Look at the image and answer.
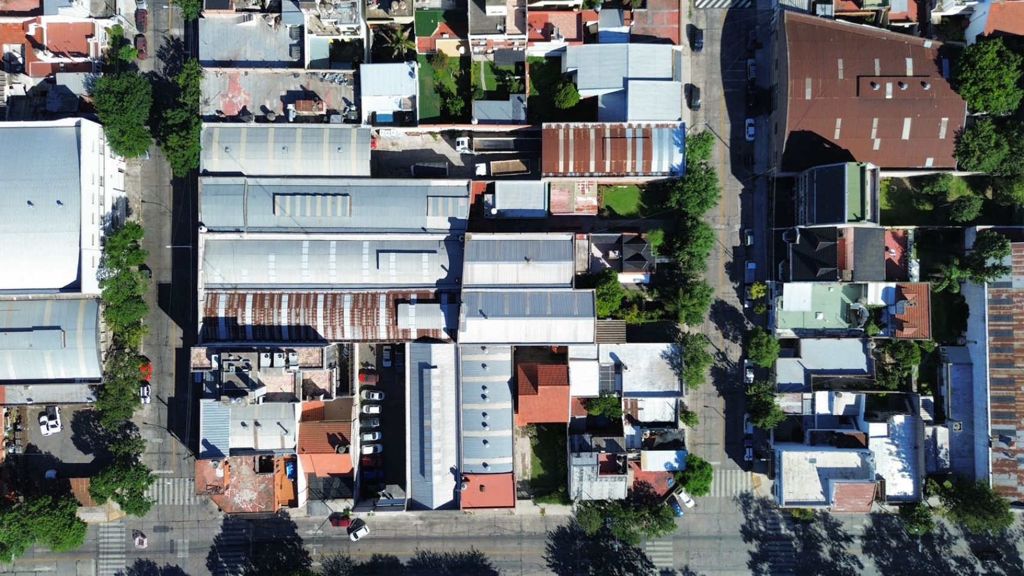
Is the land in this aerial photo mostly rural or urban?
urban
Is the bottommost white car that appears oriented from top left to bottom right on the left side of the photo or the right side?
right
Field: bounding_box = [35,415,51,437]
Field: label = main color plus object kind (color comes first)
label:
white car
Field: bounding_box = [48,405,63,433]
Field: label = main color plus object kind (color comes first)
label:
white vehicle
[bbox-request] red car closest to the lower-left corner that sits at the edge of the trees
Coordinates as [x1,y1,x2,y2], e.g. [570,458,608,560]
[141,360,153,381]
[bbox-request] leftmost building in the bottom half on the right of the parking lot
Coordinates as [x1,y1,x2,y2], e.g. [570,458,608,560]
[405,342,461,510]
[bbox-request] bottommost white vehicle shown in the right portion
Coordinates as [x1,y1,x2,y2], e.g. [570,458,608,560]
[675,487,695,510]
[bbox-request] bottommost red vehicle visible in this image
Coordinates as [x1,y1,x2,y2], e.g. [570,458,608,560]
[331,516,352,528]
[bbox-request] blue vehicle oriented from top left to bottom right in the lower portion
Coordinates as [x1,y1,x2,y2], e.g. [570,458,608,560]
[667,497,684,518]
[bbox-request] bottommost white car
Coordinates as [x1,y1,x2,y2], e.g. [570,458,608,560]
[348,523,371,541]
